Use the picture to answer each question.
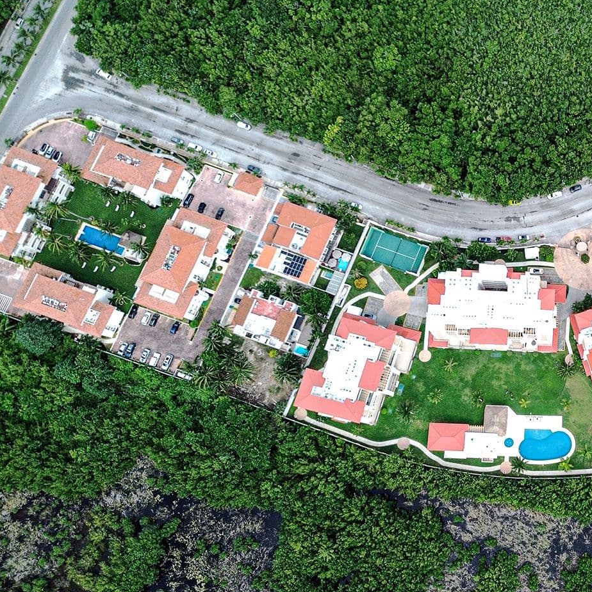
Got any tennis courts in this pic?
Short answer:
Yes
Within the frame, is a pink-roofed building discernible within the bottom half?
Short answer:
Yes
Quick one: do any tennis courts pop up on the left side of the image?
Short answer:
No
